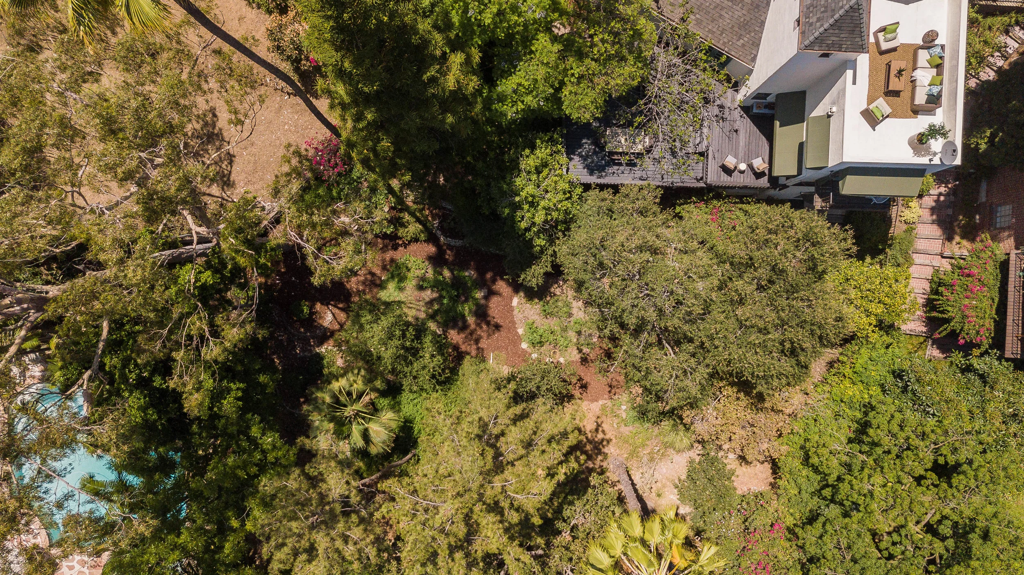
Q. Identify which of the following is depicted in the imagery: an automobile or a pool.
pool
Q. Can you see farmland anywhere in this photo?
No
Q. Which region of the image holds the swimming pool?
bottom left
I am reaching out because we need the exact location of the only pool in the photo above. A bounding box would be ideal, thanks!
[9,381,191,539]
